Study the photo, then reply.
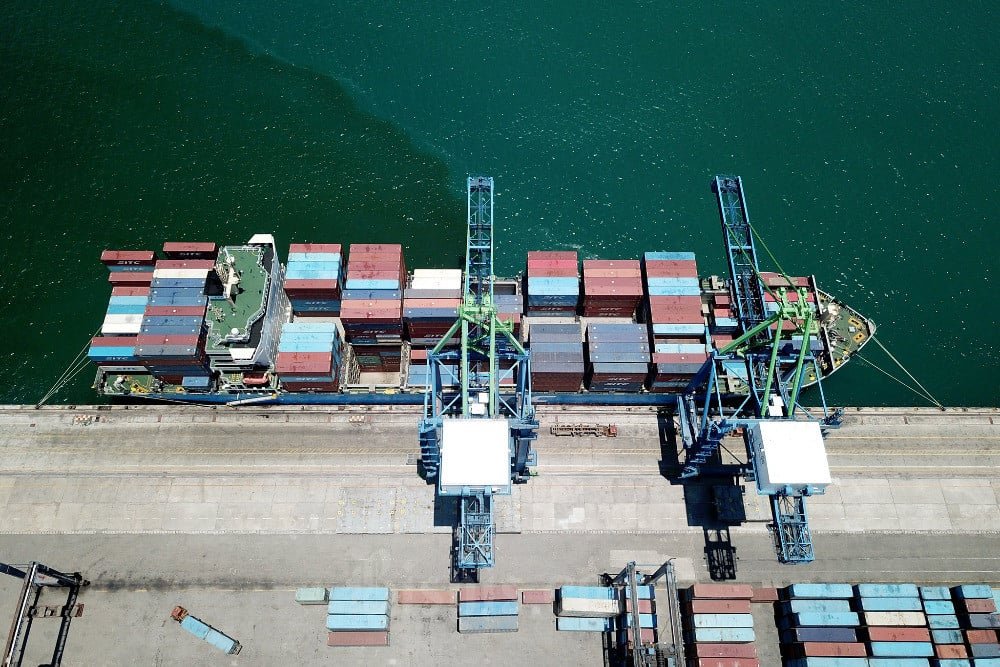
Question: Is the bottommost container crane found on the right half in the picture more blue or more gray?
gray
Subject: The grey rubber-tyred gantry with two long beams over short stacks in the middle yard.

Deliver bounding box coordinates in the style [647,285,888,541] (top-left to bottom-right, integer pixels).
[609,560,690,667]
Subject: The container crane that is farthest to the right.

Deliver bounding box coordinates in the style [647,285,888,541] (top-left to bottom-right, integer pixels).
[668,175,848,569]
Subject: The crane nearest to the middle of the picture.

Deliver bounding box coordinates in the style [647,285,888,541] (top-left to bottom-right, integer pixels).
[411,174,550,568]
